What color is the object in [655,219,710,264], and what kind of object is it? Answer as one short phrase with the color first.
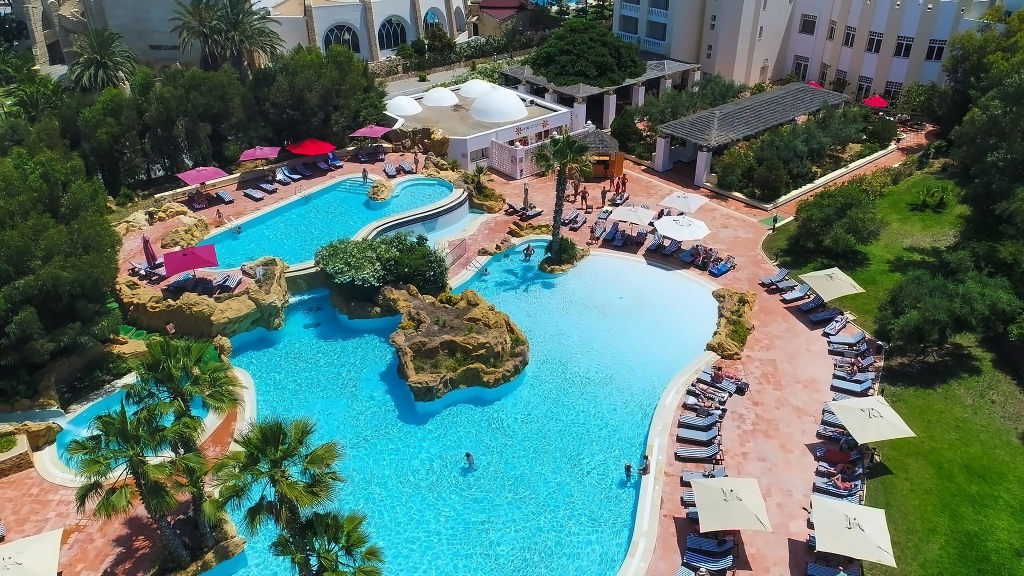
white umbrella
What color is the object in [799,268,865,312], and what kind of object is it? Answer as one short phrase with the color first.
white umbrella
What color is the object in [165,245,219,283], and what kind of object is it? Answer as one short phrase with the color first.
pink umbrella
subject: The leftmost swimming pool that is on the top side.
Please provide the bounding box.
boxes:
[204,178,455,269]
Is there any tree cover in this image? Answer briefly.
Yes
